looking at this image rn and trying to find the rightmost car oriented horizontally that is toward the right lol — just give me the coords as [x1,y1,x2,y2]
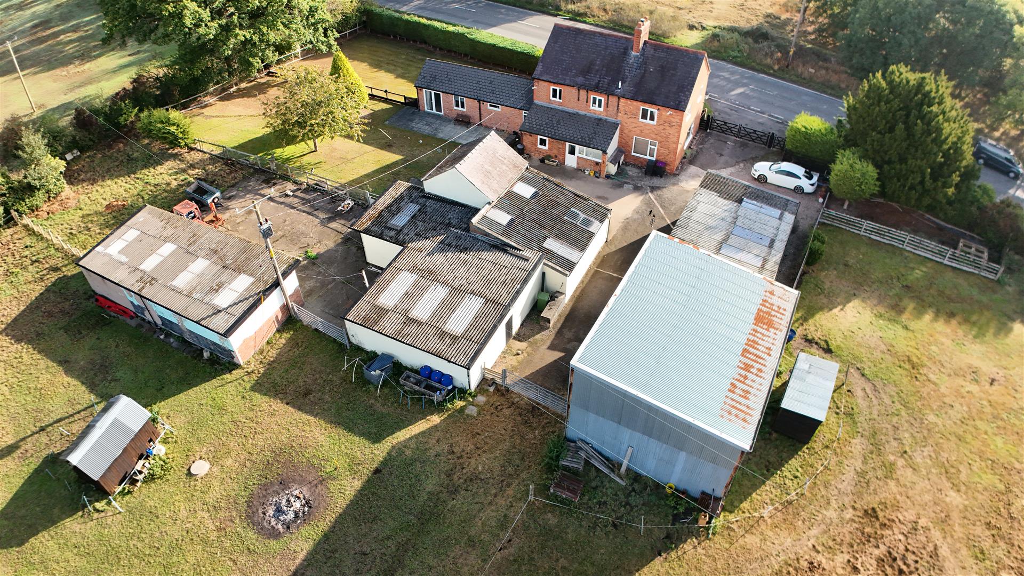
[751,162,822,194]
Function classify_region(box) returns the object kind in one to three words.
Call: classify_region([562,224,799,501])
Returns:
barn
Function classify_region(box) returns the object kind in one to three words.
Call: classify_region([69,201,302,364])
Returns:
shed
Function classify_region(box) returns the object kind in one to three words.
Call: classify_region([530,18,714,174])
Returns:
house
